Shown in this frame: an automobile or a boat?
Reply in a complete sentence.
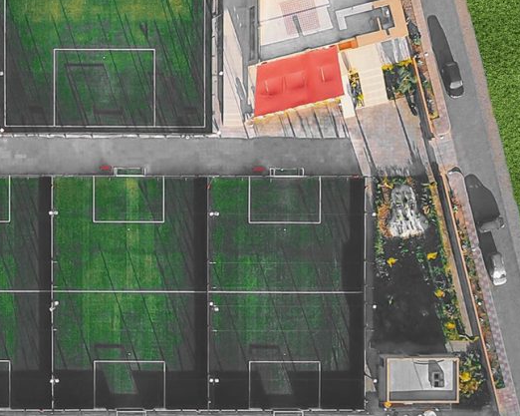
There is an automobile in the scene.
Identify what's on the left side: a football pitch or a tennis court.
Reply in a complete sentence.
It is a football pitch that can be seen on the left side.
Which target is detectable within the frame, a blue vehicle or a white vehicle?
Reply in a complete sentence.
Of the two, only a white vehicle appears.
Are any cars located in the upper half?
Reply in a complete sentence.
Yes, a car appears in the upper half.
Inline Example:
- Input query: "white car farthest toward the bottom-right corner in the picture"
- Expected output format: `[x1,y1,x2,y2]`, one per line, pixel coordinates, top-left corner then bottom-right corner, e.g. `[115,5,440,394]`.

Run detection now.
[488,254,510,287]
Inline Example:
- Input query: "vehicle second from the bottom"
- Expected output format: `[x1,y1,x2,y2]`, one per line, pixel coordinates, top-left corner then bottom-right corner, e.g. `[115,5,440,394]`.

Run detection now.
[476,216,506,234]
